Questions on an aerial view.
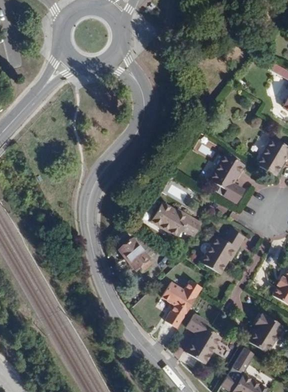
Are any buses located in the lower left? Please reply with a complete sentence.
No, looking in the lower left, there is no bus.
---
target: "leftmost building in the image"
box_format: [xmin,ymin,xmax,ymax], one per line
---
[118,238,150,268]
